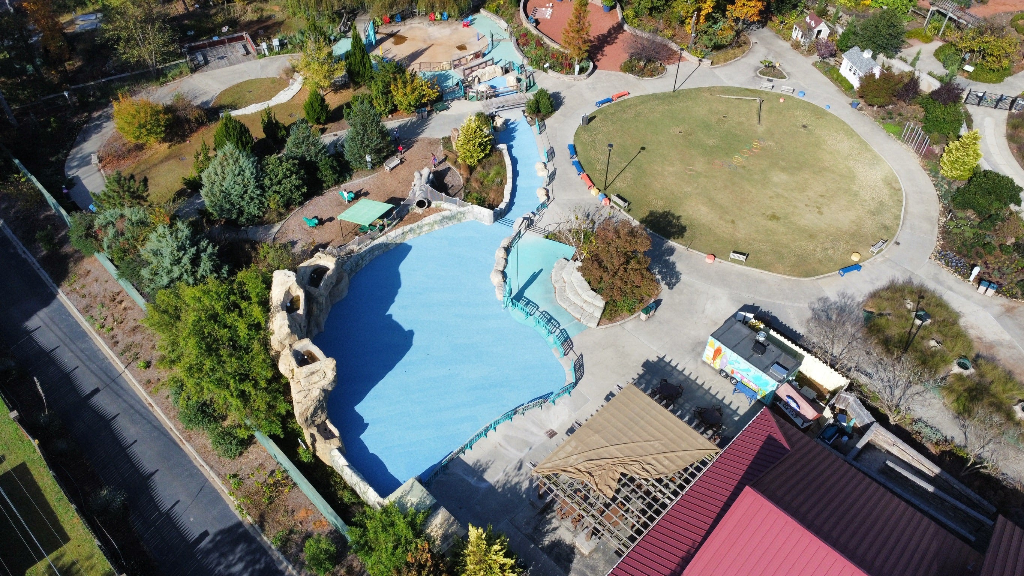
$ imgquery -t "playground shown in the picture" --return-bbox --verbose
[275,135,462,255]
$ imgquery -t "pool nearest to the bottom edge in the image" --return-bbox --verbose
[317,113,567,496]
